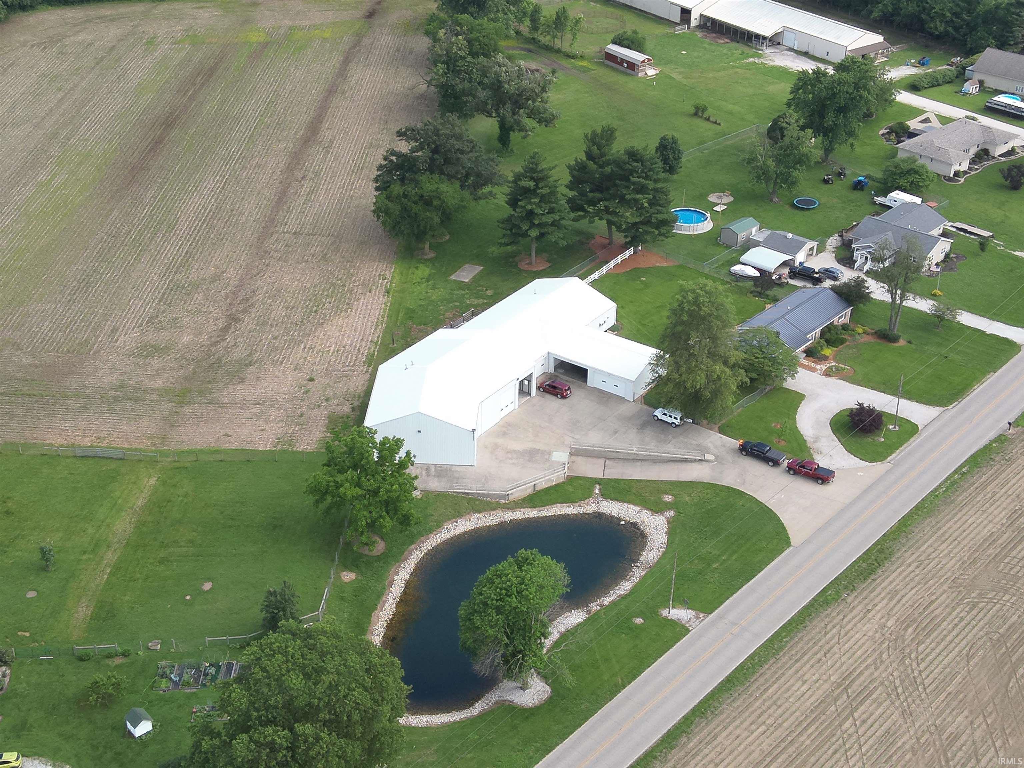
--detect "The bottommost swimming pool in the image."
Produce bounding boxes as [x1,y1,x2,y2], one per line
[668,209,714,235]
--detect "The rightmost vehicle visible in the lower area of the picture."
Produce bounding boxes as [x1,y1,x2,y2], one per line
[783,458,838,485]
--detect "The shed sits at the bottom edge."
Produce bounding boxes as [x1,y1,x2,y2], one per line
[125,706,153,736]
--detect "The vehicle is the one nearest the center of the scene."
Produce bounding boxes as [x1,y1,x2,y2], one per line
[535,378,574,399]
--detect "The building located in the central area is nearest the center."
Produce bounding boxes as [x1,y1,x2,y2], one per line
[362,275,669,466]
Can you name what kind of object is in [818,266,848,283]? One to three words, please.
car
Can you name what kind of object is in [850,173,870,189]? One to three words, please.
work vehicle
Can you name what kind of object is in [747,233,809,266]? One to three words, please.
building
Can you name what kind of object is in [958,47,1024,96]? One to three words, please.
house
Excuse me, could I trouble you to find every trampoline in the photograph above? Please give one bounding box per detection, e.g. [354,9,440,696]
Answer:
[793,197,820,212]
